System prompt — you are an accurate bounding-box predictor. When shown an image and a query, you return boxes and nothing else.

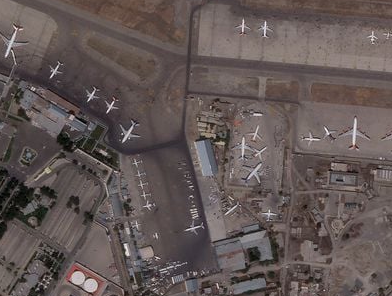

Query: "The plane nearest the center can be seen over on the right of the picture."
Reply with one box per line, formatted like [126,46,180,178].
[231,137,255,161]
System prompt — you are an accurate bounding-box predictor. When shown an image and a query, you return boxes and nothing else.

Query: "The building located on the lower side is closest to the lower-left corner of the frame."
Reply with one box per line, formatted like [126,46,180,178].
[13,259,46,296]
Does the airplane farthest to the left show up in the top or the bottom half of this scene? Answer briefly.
top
